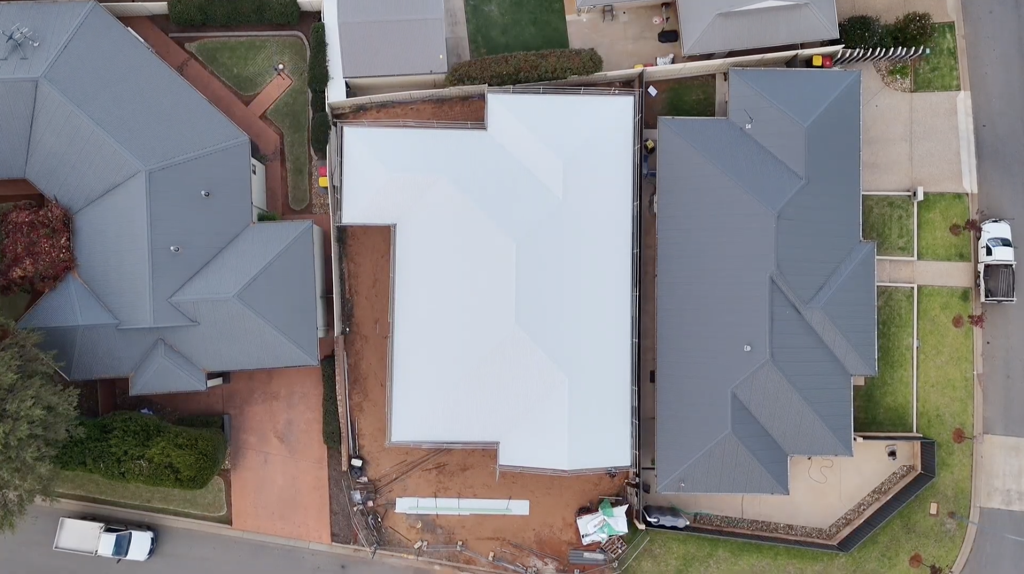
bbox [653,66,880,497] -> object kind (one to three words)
house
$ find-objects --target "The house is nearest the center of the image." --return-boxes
[340,91,638,471]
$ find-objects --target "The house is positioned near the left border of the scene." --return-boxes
[0,0,332,397]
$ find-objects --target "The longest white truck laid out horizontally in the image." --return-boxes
[49,517,158,566]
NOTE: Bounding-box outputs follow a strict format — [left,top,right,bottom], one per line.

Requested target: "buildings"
[337,0,450,97]
[0,0,332,397]
[340,91,638,471]
[653,66,880,497]
[669,0,841,63]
